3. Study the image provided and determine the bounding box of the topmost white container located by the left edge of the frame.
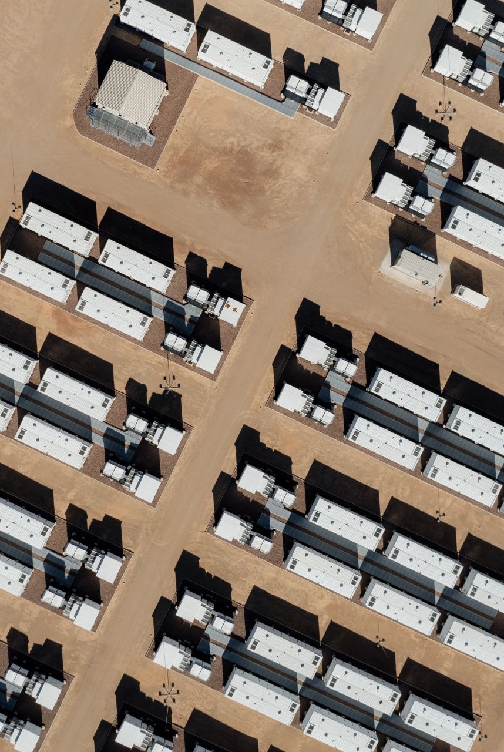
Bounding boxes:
[21,203,100,258]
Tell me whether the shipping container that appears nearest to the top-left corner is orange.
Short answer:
No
